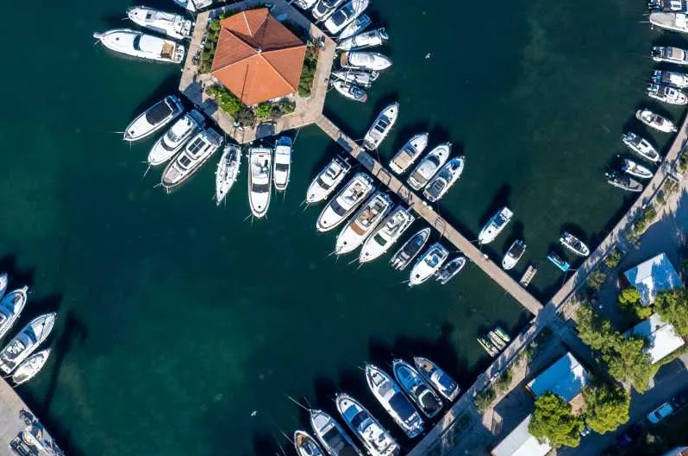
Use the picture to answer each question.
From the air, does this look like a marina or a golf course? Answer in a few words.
marina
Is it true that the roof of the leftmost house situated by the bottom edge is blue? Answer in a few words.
No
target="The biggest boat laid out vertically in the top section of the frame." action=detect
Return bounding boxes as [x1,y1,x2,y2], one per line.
[247,137,274,223]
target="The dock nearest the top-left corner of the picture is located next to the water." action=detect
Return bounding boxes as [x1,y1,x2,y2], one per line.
[179,0,337,144]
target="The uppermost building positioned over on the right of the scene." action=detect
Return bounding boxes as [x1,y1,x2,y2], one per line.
[618,250,683,306]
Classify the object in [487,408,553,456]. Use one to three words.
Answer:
house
